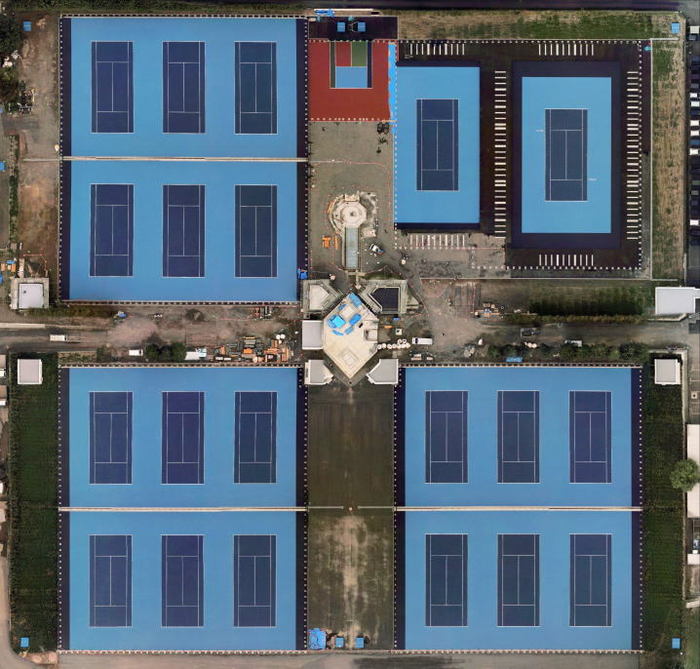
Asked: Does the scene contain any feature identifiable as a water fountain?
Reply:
Yes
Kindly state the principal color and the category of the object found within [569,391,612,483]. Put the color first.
blue tennis court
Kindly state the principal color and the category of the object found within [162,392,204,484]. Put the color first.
blue tennis court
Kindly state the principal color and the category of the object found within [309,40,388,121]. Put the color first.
red sports court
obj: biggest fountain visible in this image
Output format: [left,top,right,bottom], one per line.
[325,191,379,236]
